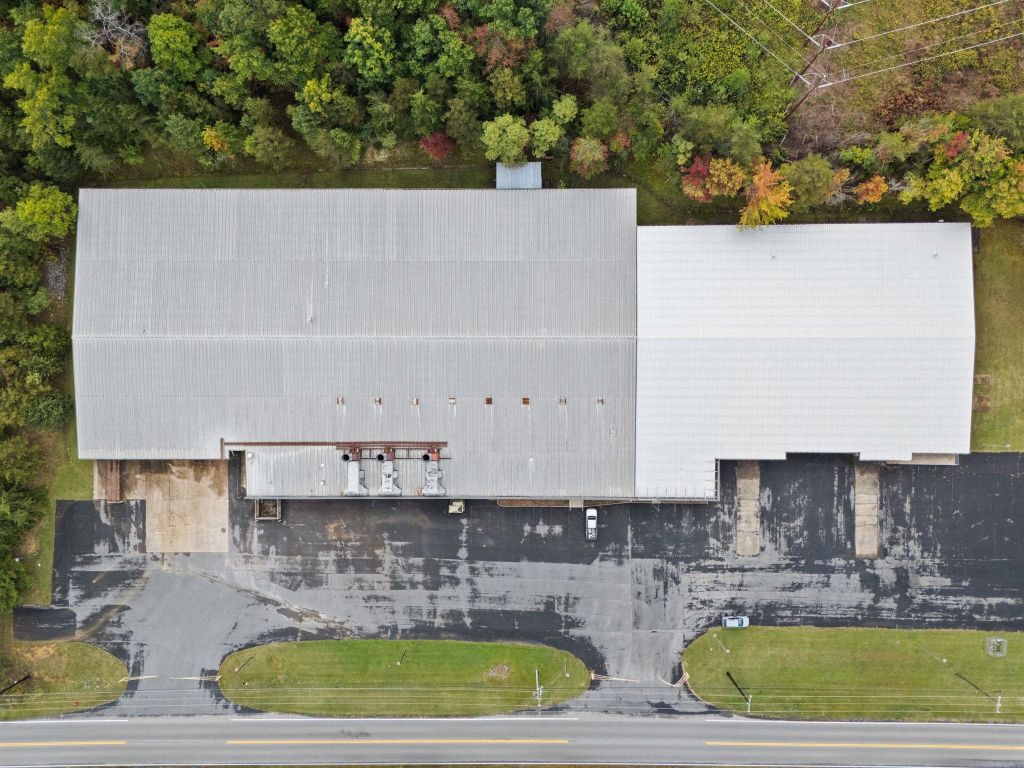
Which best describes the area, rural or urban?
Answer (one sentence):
From above, the setting appears urban.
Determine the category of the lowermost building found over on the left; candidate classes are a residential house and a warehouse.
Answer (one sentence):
The lowermost building found over on the left appears to be a warehouse.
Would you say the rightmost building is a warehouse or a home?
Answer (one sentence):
The rightmost building appears to be a warehouse.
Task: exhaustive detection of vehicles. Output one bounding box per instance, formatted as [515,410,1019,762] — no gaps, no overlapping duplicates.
[720,614,748,628]
[585,508,598,540]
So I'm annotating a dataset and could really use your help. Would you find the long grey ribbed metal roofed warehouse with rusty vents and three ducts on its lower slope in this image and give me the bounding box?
[71,188,639,502]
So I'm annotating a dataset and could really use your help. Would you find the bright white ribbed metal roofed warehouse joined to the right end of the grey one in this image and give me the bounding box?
[633,222,976,502]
